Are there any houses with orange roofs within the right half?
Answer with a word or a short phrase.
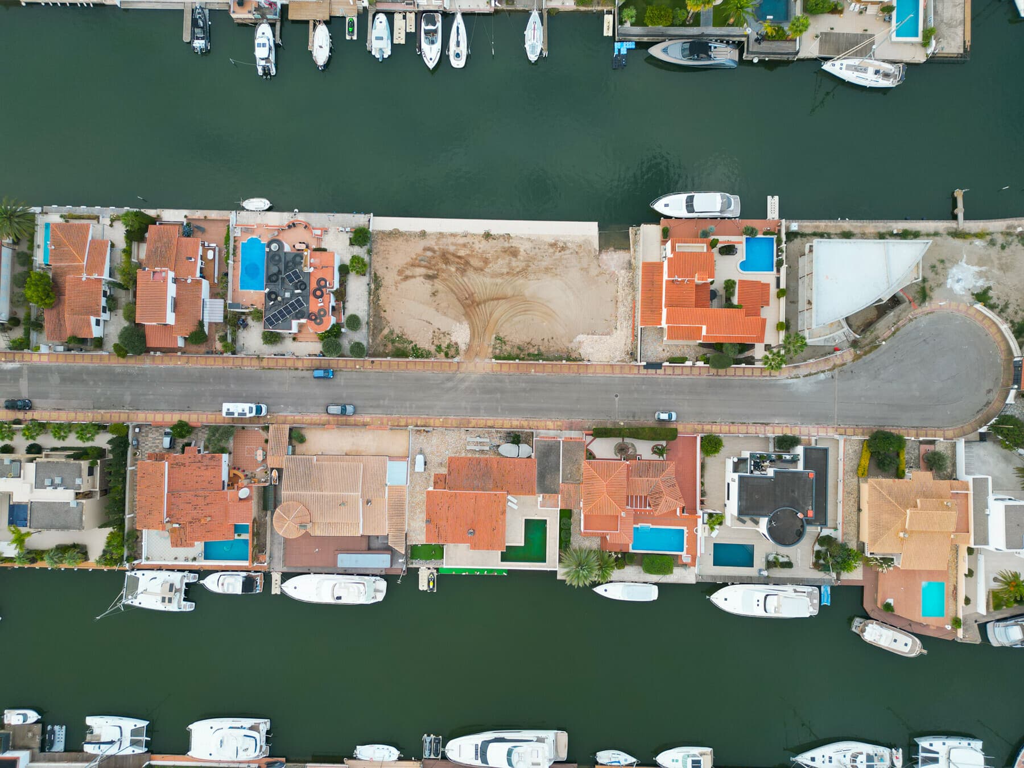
Yes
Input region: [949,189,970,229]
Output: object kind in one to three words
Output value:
pier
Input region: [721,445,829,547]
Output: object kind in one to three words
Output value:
house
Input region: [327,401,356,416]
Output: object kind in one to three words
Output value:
car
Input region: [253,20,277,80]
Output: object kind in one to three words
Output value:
boat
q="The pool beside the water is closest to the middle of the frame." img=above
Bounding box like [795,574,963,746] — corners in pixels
[499,517,549,565]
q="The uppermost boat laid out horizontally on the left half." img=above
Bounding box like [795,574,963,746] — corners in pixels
[235,197,271,211]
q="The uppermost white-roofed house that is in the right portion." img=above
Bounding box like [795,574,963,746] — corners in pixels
[797,239,932,346]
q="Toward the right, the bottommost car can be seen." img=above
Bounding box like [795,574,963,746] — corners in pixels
[654,409,676,423]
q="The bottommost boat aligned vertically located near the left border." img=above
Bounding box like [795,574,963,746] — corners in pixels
[44,721,56,752]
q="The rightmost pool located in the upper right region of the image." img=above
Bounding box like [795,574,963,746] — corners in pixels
[891,0,924,42]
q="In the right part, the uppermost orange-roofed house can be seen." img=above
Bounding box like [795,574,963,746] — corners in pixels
[639,238,770,345]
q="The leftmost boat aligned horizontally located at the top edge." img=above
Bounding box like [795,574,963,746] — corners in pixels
[648,38,742,71]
